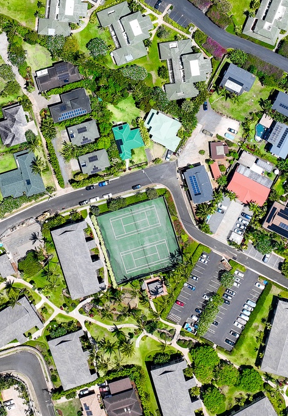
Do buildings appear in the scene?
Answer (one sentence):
Yes, the photo shows a building.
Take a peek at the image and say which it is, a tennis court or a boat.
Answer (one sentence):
There is a tennis court in the scene.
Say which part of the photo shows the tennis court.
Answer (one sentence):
The tennis court is in the center part of the image.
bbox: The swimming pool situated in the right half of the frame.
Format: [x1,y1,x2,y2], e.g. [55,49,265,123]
[253,121,267,142]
